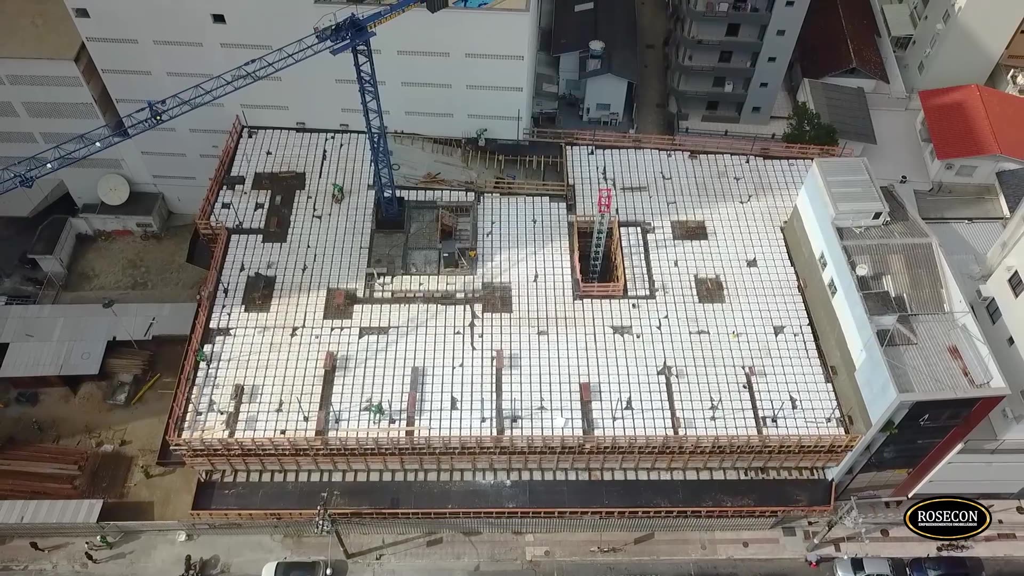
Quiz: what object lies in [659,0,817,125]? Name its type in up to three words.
building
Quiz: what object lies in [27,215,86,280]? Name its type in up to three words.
shed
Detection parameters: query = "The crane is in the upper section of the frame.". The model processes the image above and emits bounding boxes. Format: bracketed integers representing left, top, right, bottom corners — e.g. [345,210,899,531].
[0,0,467,229]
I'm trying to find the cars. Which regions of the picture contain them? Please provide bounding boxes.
[829,553,903,576]
[902,552,985,576]
[260,564,334,576]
